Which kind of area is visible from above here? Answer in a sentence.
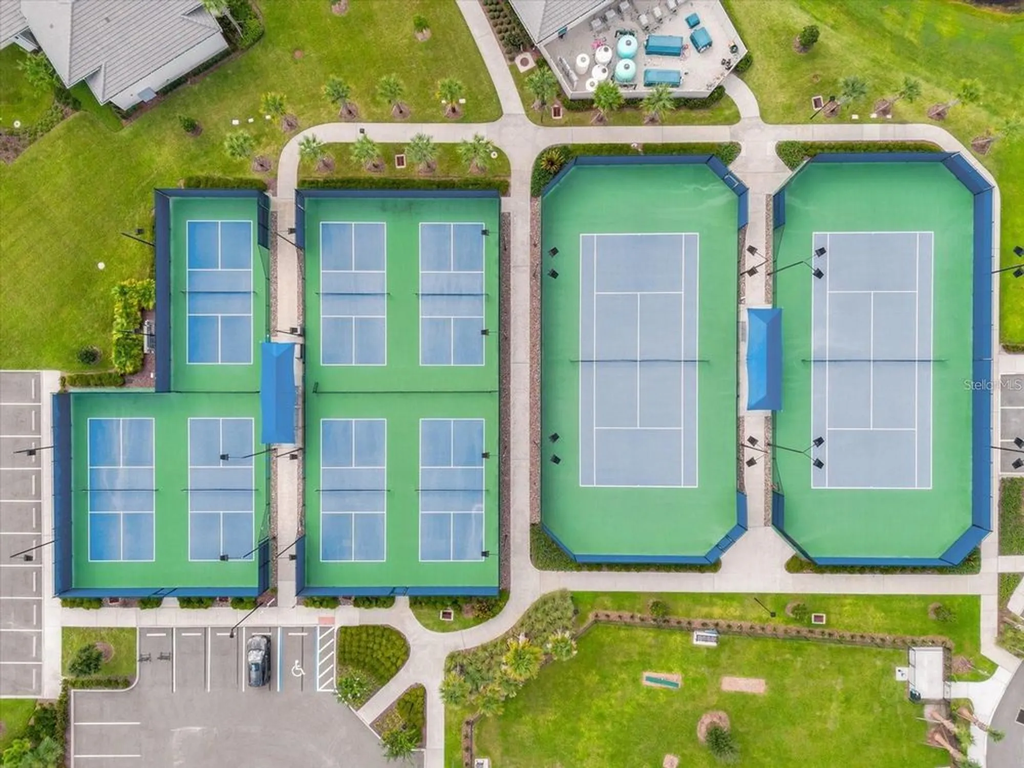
The area seen from above is a sports ground.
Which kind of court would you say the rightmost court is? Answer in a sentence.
What you see as the rightmost court is a tennis court.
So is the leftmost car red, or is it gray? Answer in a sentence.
In this view, the leftmost car is gray.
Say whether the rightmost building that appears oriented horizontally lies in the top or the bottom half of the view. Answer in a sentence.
The rightmost building that appears oriented horizontally is in the top half of the image.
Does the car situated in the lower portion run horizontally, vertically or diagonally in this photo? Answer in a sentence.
I'd say the car situated in the lower portion is aligned vertically in the picture.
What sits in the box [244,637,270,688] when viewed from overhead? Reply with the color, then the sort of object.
gray car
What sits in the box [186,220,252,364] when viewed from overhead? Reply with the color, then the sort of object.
blue sports court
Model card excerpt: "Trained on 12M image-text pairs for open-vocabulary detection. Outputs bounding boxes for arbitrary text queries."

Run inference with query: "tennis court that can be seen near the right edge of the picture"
[772,161,974,560]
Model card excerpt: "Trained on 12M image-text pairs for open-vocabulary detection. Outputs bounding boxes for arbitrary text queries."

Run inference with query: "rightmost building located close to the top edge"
[505,0,621,52]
